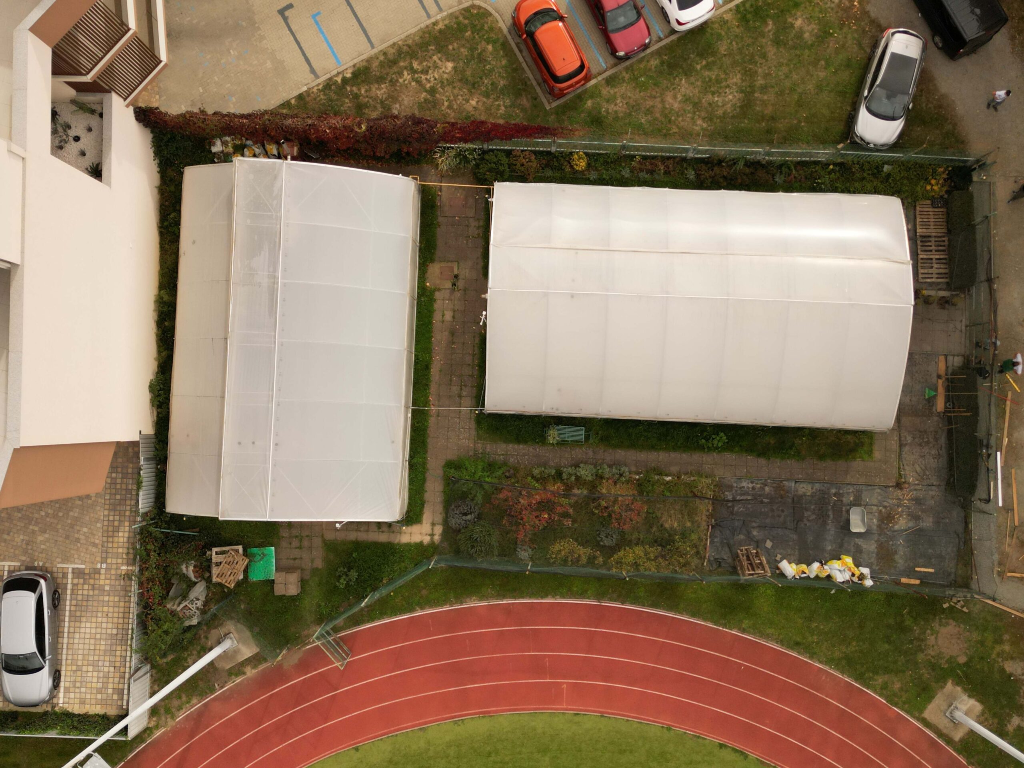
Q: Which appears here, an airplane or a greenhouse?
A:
greenhouse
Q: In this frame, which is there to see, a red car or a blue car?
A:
red car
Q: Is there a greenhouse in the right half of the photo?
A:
Yes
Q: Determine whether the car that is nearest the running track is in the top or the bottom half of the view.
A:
bottom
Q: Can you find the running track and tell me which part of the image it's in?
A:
bottom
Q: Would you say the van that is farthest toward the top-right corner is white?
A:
No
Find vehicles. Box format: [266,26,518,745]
[906,0,1017,63]
[516,0,591,99]
[584,0,646,57]
[0,572,67,703]
[649,0,709,35]
[840,27,925,150]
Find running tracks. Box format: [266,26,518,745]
[118,596,975,768]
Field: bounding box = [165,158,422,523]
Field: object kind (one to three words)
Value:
greenhouse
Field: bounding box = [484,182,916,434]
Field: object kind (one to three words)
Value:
greenhouse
